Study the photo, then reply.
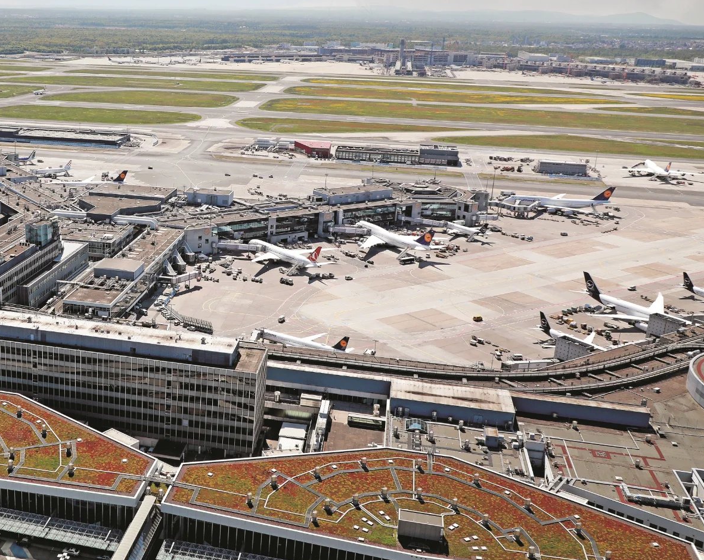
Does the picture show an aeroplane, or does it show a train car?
aeroplane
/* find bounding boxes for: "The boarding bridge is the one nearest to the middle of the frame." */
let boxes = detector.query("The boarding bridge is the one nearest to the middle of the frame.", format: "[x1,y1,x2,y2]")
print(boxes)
[330,226,372,240]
